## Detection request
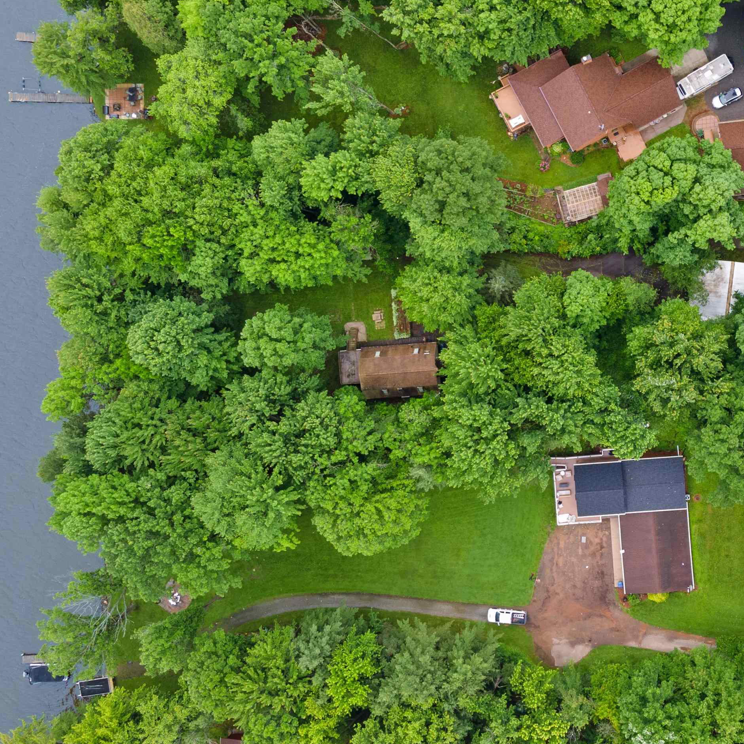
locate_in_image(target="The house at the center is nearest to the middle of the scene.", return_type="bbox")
[336,328,444,399]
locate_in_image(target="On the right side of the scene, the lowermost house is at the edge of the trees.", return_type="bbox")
[551,449,693,593]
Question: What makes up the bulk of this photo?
trees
